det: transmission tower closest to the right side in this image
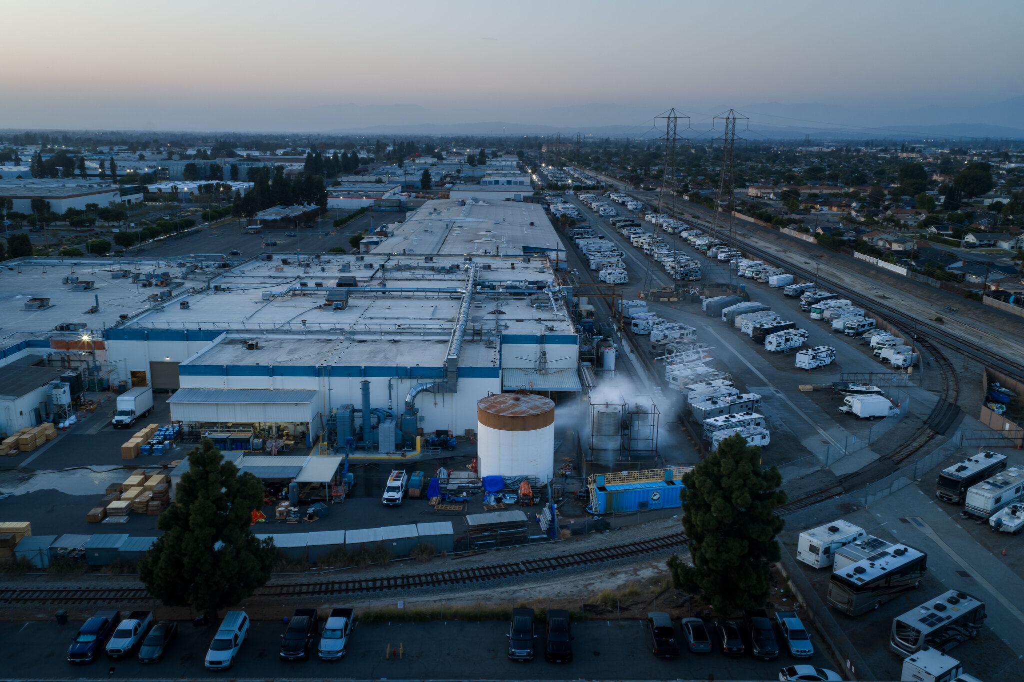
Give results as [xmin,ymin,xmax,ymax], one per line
[701,109,759,296]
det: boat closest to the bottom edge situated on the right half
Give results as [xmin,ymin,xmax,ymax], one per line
[995,508,1024,539]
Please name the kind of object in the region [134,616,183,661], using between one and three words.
car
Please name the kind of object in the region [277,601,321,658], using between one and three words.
truck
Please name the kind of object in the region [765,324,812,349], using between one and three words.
trailer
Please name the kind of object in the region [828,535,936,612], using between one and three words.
camper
